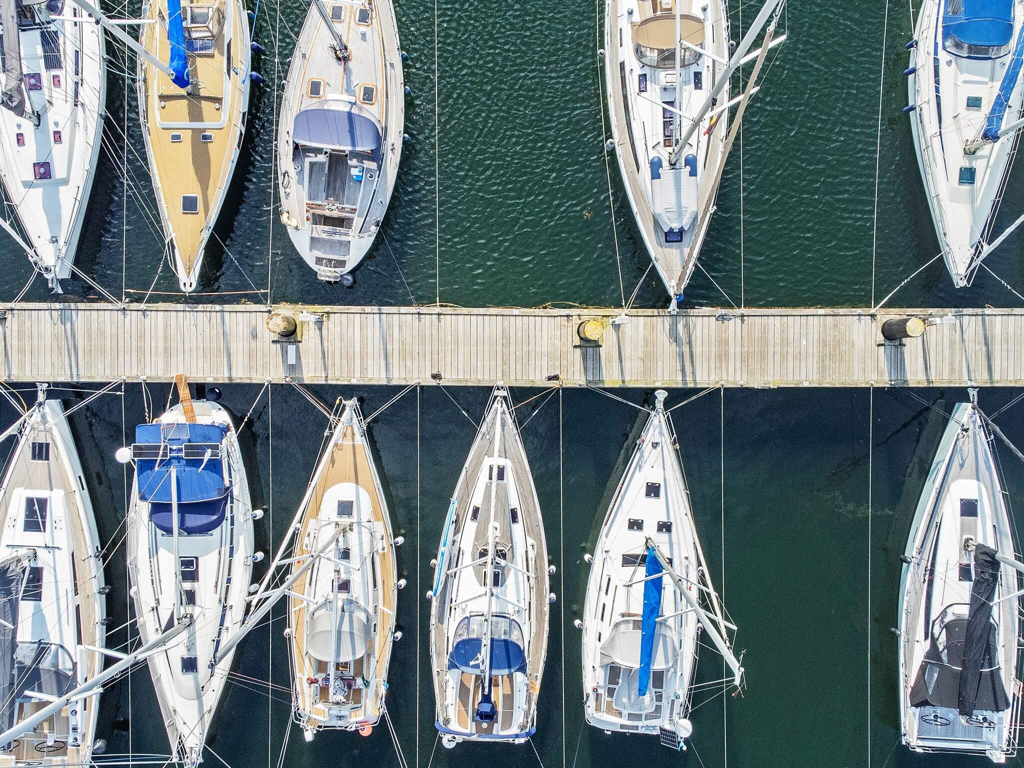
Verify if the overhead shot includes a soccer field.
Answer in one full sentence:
No, the frame has no soccer field in it.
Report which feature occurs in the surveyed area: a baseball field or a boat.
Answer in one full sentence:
The one in the frame is a boat.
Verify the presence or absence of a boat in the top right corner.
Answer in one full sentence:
Yes, a boat is visible in the top right corner.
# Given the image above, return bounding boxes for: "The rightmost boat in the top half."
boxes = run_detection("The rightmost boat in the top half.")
[905,0,1024,294]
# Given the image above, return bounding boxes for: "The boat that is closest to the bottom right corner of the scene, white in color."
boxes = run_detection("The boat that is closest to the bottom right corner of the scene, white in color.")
[892,388,1024,761]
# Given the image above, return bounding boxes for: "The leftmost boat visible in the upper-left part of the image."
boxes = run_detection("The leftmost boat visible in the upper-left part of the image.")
[0,0,112,290]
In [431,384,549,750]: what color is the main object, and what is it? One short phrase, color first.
white boat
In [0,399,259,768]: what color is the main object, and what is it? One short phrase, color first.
white boat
